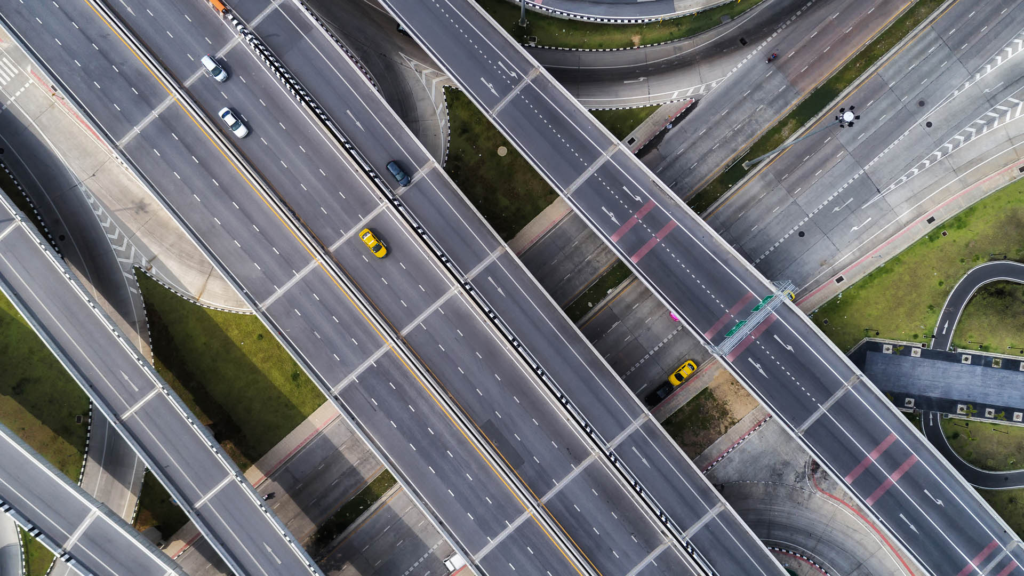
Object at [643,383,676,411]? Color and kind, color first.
black truck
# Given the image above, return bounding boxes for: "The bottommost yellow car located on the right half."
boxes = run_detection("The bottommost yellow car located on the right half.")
[667,358,699,387]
